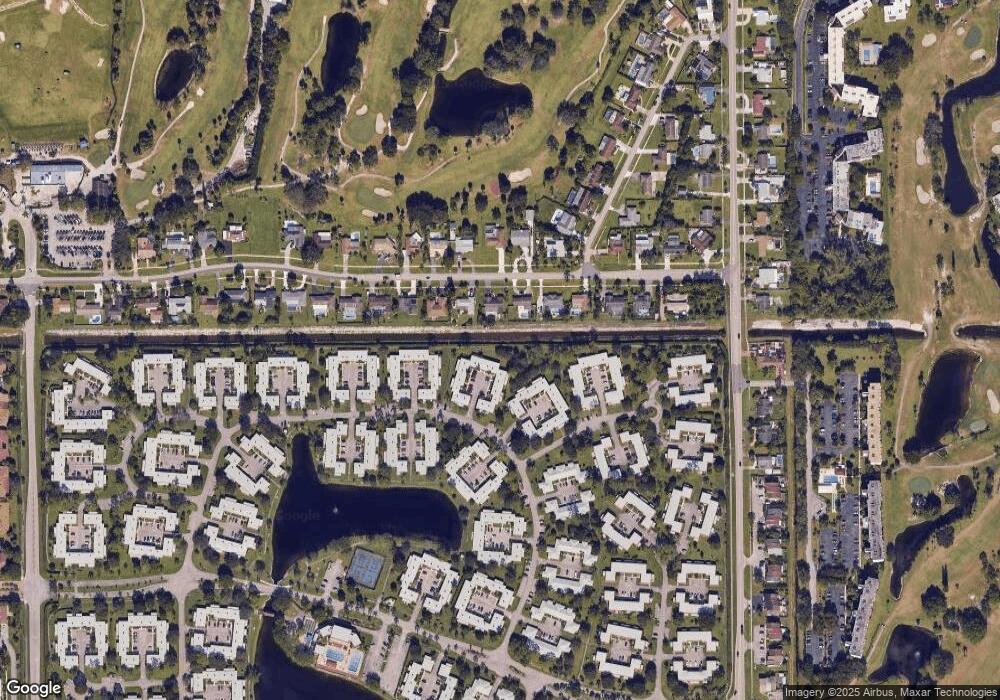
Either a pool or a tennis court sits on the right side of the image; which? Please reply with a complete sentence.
The one visible on the right side of the image is a pool.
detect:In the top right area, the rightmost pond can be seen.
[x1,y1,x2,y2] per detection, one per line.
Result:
[943,66,1000,215]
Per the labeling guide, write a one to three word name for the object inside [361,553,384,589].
tennis court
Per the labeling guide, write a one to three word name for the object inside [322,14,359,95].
pond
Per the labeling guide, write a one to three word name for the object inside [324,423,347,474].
building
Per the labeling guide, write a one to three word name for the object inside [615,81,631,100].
swimming pool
